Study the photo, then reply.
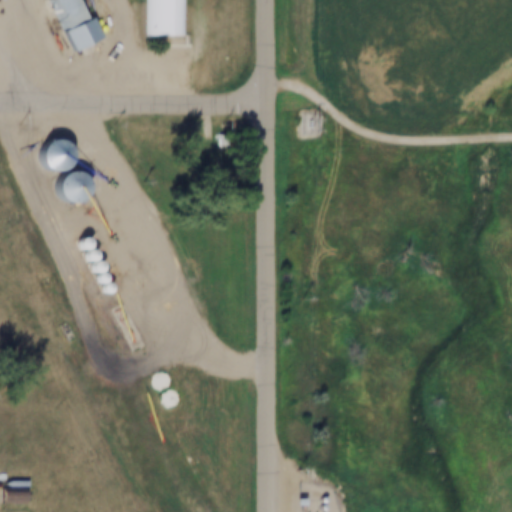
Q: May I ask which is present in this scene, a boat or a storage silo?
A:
storage silo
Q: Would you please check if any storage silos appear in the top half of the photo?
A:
Yes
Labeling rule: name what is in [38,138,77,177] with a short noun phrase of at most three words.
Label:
silo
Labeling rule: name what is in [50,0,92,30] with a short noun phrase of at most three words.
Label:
barn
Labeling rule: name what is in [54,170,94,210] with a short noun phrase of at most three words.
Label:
silo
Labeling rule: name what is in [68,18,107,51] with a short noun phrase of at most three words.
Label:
shed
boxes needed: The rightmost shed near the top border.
[145,0,188,38]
